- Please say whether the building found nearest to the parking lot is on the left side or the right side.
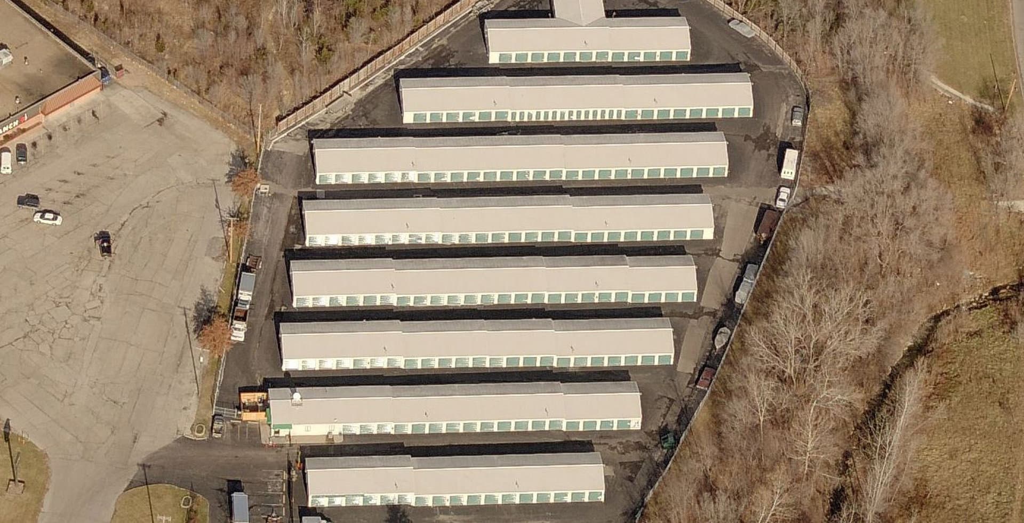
left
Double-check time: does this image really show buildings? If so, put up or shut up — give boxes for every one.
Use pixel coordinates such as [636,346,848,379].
[305,452,606,507]
[313,131,729,183]
[303,193,715,246]
[399,72,755,122]
[290,255,698,307]
[279,318,675,371]
[264,381,643,436]
[485,0,691,63]
[0,0,108,157]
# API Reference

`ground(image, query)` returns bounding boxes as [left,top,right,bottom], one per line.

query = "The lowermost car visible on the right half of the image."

[661,430,676,451]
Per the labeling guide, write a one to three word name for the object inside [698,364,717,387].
vehicle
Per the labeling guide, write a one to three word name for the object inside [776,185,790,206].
car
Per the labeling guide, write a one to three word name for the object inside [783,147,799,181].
camper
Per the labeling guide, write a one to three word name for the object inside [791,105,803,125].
vehicle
